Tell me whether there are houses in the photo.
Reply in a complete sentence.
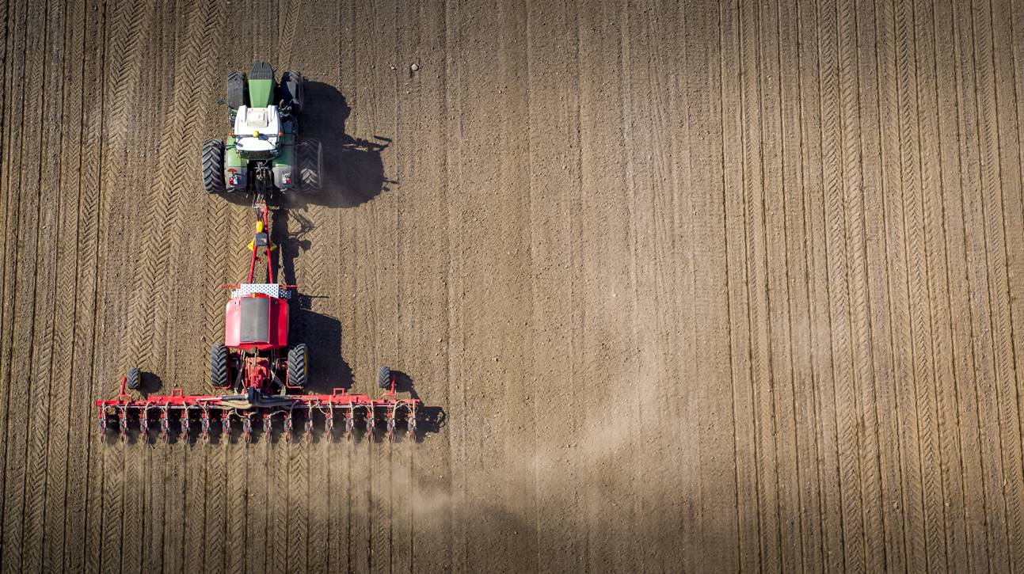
No, I can't see a single house in this photo.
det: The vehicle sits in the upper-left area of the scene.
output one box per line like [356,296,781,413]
[202,61,323,207]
